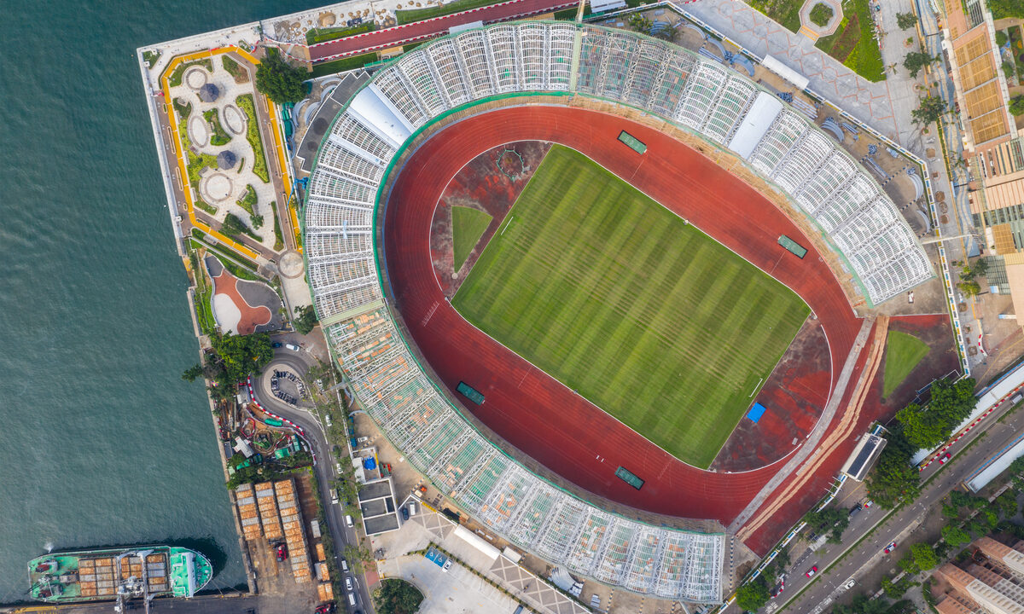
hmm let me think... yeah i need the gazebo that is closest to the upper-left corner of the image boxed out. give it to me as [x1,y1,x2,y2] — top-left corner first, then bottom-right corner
[201,84,222,105]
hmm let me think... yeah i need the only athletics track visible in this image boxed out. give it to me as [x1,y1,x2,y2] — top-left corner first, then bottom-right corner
[383,106,948,543]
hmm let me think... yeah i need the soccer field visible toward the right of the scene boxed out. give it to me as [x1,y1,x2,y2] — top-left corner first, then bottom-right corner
[453,144,810,467]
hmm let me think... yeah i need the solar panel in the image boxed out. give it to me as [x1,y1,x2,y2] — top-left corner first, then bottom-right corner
[848,438,881,477]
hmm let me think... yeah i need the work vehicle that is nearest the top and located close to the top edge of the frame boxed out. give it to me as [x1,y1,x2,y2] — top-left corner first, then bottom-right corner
[347,15,372,29]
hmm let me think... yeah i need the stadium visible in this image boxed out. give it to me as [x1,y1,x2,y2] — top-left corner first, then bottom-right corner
[302,20,934,603]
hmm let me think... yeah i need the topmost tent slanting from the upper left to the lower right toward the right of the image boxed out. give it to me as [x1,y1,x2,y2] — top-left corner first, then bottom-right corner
[759,55,809,92]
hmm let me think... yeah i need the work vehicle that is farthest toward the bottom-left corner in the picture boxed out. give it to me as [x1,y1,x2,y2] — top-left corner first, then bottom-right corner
[269,541,288,562]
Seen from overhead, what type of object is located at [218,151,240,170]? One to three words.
gazebo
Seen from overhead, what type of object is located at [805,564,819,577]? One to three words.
vehicle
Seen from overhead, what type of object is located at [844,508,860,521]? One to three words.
vehicle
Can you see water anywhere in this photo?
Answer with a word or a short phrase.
Yes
